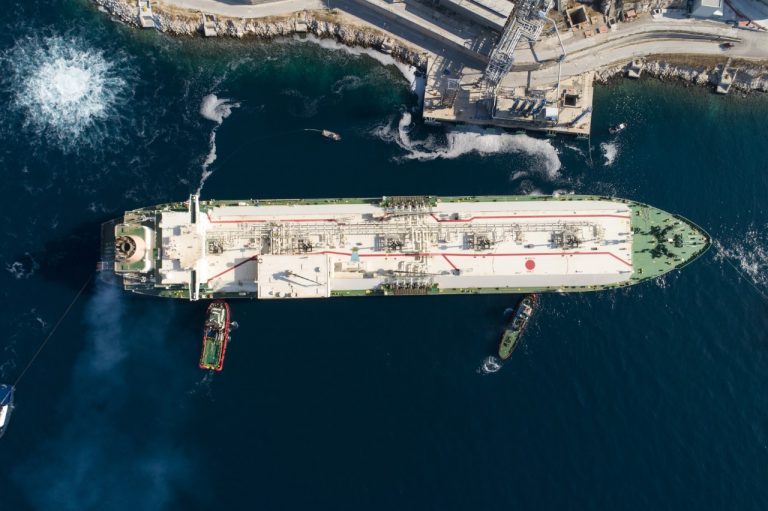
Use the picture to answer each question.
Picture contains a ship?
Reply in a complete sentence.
Yes, the photo shows a ship.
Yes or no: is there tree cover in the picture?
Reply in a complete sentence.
No, there is no tree cover in the image.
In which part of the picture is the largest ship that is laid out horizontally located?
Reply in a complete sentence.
The largest ship that is laid out horizontally is located in the center region of the scene.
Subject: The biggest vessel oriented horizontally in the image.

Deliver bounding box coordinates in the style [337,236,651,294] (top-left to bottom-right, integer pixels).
[92,194,714,300]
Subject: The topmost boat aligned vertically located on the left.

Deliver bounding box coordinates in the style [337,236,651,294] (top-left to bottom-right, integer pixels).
[200,301,229,371]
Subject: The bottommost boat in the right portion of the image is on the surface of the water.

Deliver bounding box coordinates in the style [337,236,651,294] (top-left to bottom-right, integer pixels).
[500,295,534,359]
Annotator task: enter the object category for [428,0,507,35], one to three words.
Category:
building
